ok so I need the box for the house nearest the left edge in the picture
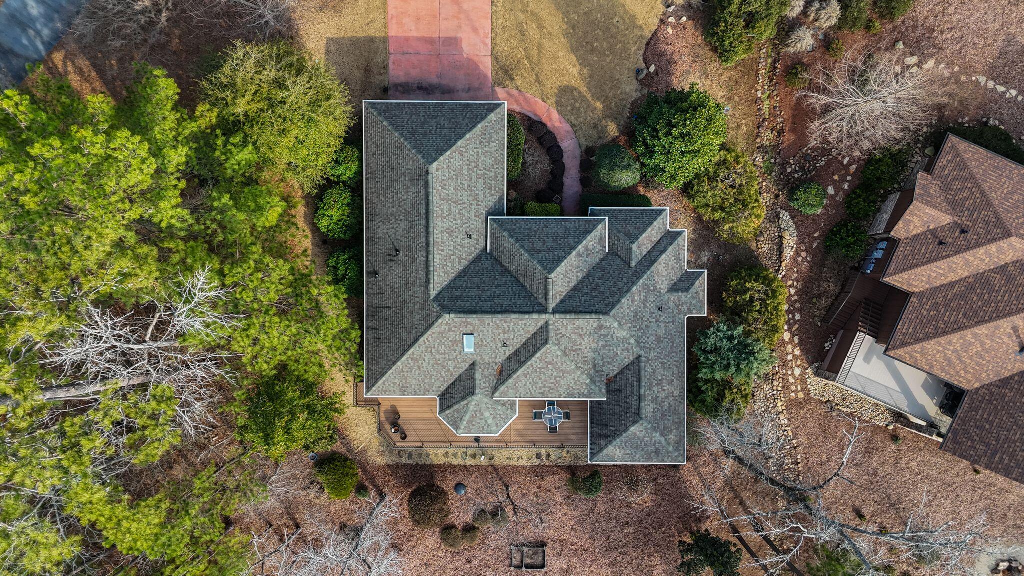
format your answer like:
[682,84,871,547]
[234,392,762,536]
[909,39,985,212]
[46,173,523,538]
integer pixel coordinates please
[362,100,708,466]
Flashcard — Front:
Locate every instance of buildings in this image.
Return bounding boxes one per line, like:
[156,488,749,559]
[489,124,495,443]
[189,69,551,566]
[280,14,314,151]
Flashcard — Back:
[362,100,708,466]
[866,131,1024,486]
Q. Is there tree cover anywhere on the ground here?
Yes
